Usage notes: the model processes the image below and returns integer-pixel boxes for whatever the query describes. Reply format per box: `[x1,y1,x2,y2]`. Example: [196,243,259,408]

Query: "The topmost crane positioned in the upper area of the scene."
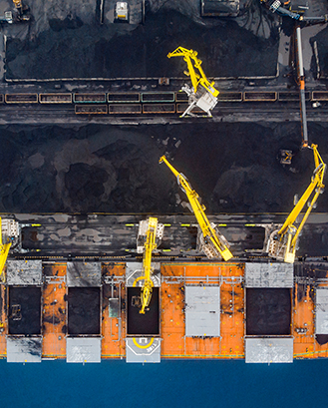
[164,45,224,119]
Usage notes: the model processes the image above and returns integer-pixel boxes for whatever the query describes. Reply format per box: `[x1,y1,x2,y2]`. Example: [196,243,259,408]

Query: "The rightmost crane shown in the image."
[247,144,327,262]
